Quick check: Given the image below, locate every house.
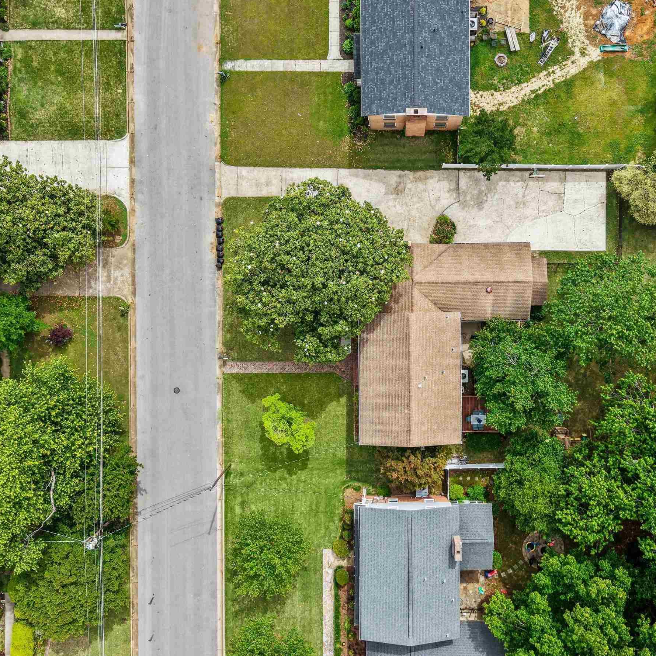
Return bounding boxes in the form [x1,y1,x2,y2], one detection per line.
[353,0,470,142]
[353,498,519,656]
[354,241,549,451]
